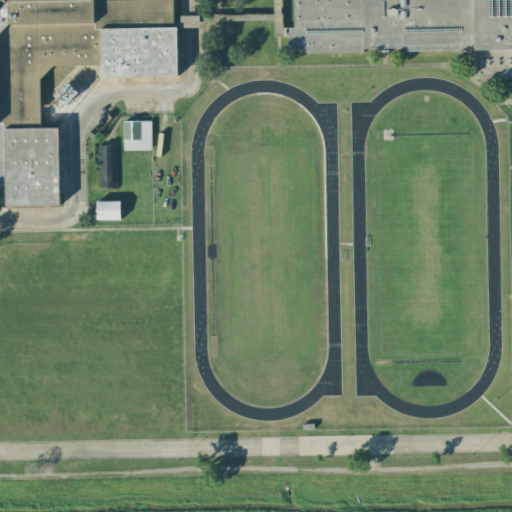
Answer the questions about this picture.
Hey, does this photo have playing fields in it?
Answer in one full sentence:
Yes, a playing field is visible in the scene.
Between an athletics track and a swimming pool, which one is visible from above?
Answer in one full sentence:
Looking from above, you can make out an athletics track.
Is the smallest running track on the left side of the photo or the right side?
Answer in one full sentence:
The smallest running track appears in the right half of the scene.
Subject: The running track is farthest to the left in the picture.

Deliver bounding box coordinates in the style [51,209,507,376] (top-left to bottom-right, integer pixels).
[191,80,343,421]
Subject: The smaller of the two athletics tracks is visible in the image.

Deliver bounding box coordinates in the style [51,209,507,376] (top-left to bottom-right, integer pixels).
[352,77,502,418]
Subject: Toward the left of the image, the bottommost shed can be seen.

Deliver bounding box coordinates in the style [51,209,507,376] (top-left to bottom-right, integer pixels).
[96,202,121,220]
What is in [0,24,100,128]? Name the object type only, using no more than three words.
building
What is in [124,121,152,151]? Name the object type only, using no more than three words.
shed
